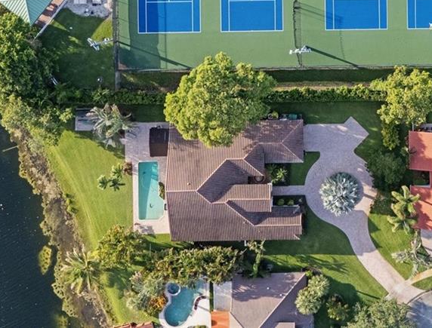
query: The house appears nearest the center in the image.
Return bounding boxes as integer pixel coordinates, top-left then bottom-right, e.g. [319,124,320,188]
[165,119,303,242]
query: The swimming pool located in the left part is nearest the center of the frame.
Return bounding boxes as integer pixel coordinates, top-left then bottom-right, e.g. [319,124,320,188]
[137,160,165,221]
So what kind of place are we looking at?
residential area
